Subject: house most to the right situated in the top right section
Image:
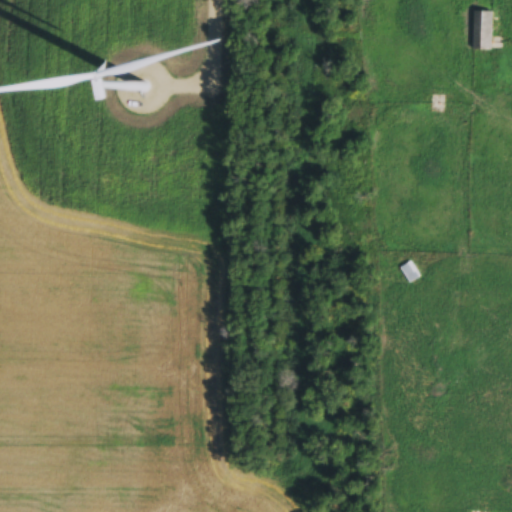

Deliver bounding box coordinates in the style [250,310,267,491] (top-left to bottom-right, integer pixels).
[472,10,494,50]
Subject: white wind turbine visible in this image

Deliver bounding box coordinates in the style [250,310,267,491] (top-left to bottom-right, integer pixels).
[0,35,220,102]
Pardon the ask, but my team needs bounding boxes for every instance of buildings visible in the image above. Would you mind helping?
[472,10,494,50]
[400,260,421,283]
